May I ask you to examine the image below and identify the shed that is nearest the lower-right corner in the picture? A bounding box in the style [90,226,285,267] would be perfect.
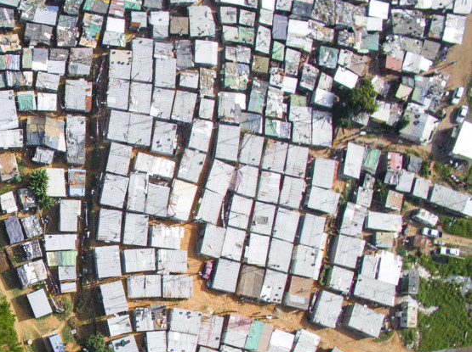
[400,304,418,327]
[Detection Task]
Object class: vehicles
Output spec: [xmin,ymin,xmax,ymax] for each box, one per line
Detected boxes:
[419,227,442,238]
[437,247,460,256]
[201,261,213,280]
[411,209,442,227]
[453,103,469,125]
[447,84,465,107]
[202,277,212,290]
